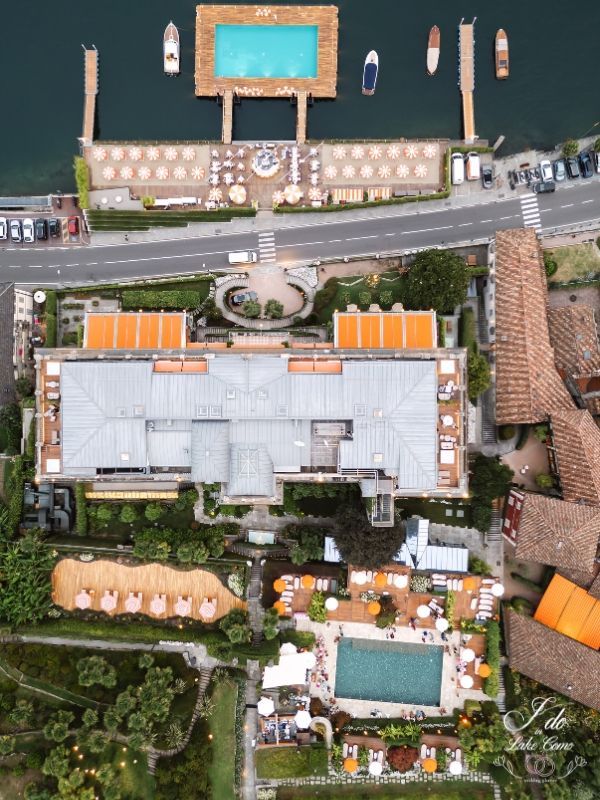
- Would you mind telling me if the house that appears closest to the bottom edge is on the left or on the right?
right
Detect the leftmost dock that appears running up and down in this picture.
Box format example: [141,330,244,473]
[80,42,99,145]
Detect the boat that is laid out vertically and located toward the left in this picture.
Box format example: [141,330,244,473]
[163,20,179,77]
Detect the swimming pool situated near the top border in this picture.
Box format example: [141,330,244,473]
[195,5,337,102]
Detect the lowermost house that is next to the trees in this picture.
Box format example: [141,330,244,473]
[501,603,600,712]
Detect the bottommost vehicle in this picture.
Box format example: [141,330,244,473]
[230,290,257,305]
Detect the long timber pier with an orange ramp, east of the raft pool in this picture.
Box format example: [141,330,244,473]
[459,14,477,145]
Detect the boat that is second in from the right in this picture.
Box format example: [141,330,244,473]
[427,24,440,77]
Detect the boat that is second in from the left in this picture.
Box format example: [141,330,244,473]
[362,49,378,98]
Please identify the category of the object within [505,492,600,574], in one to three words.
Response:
house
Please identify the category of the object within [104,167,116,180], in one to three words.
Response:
umbrella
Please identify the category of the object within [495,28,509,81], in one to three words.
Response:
boat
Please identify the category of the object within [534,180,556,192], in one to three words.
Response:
vehicle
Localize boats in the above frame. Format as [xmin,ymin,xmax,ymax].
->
[427,24,440,77]
[495,28,509,81]
[362,49,378,98]
[163,20,179,77]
